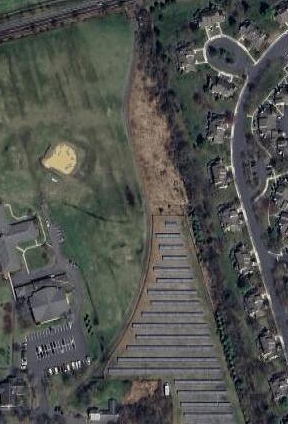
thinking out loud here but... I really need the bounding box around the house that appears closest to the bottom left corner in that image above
[0,381,24,408]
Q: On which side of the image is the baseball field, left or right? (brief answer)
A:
left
